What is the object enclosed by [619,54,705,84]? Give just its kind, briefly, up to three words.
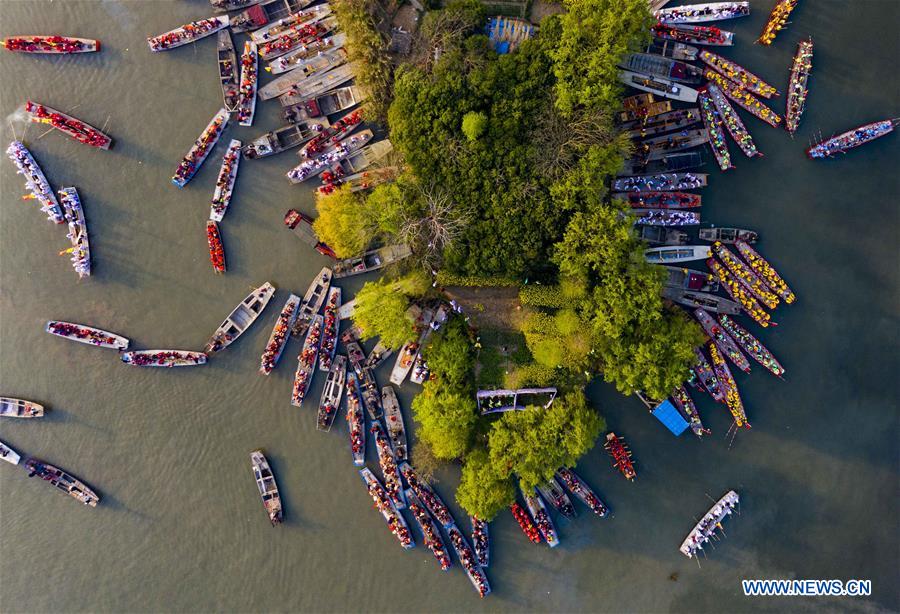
boat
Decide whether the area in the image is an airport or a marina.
marina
